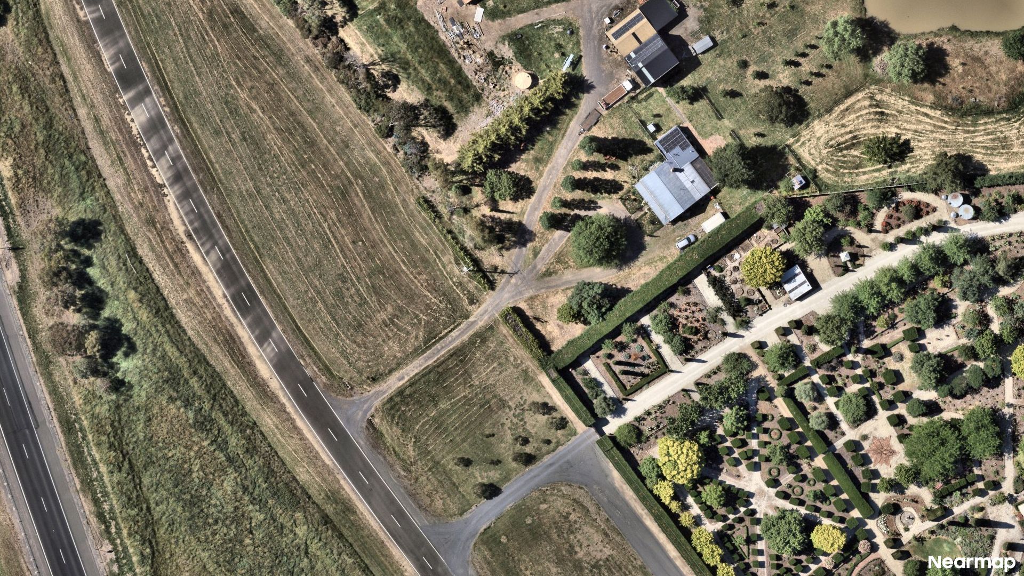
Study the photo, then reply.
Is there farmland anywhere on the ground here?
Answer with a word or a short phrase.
Yes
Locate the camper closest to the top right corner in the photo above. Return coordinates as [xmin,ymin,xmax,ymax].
[694,35,712,53]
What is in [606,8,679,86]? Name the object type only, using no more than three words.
shed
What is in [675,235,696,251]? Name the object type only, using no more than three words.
car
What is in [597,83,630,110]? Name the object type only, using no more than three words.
truck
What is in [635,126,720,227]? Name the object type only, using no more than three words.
house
